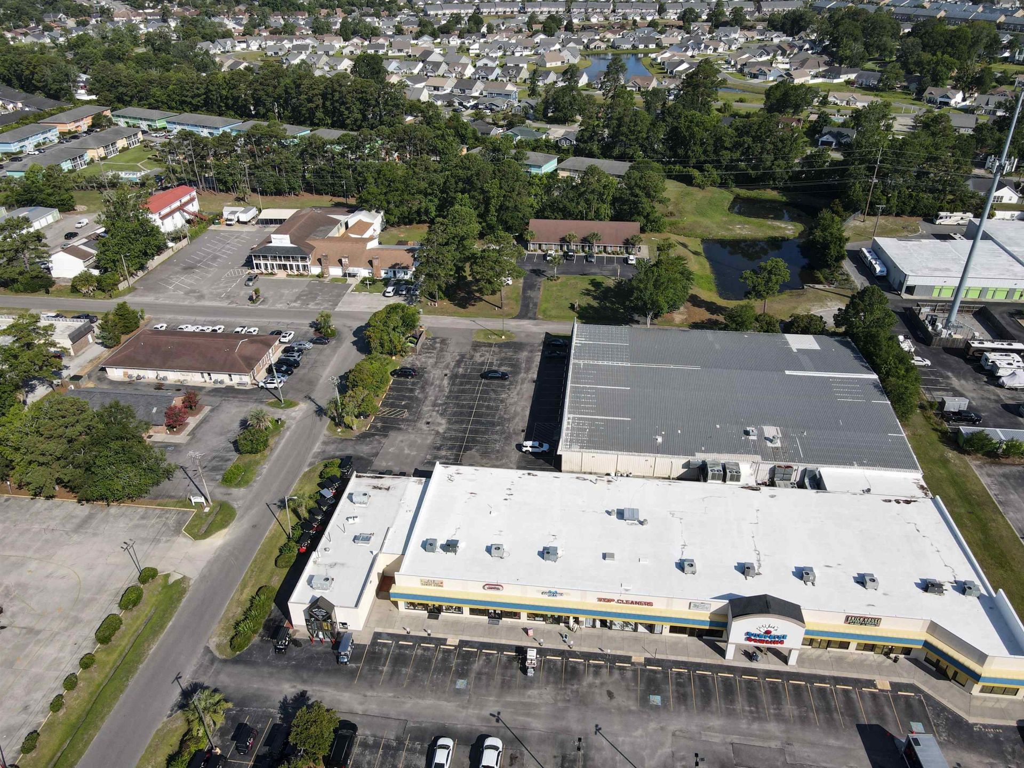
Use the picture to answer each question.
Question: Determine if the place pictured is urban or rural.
urban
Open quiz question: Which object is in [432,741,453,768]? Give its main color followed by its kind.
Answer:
white car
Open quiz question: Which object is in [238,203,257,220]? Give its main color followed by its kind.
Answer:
white vehicle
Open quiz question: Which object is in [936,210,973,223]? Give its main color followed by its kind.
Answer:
white vehicle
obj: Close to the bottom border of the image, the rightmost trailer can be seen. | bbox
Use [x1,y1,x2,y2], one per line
[896,730,944,768]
